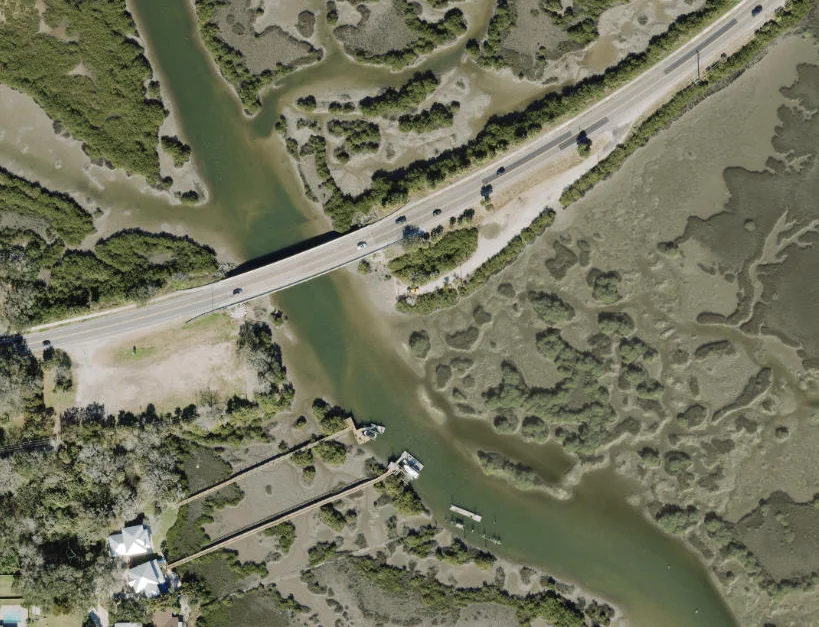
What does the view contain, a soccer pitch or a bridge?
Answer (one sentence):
Visible in the photo is a bridge.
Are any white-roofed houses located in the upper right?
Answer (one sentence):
No, there's no white-roofed house to be seen in the upper right.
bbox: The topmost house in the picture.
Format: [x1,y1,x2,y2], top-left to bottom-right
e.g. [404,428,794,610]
[106,526,150,557]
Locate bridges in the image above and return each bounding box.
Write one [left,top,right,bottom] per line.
[182,210,399,324]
